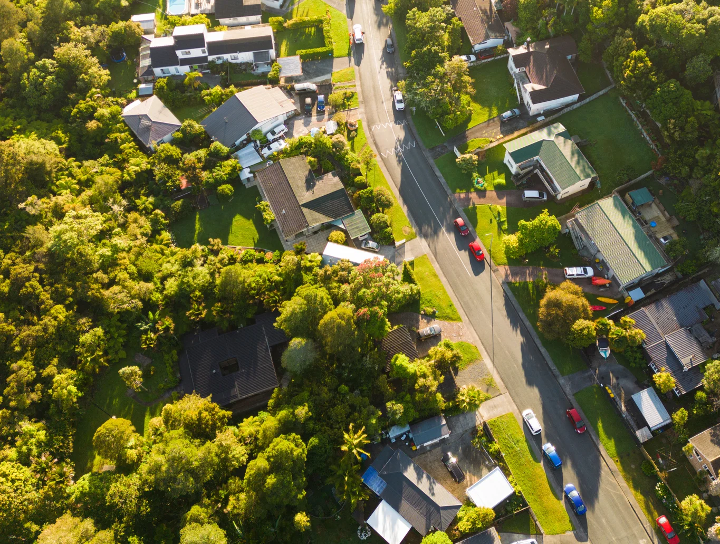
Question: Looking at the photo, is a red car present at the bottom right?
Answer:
Yes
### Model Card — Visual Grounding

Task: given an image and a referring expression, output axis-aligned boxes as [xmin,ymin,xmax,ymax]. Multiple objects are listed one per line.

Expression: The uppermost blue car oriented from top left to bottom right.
[542,444,562,469]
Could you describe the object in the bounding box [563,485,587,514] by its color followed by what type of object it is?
blue car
